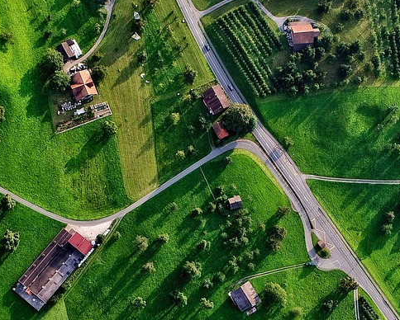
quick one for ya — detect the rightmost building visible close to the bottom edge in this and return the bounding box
[227,280,261,316]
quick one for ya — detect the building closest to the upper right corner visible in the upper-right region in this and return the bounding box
[289,21,320,49]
